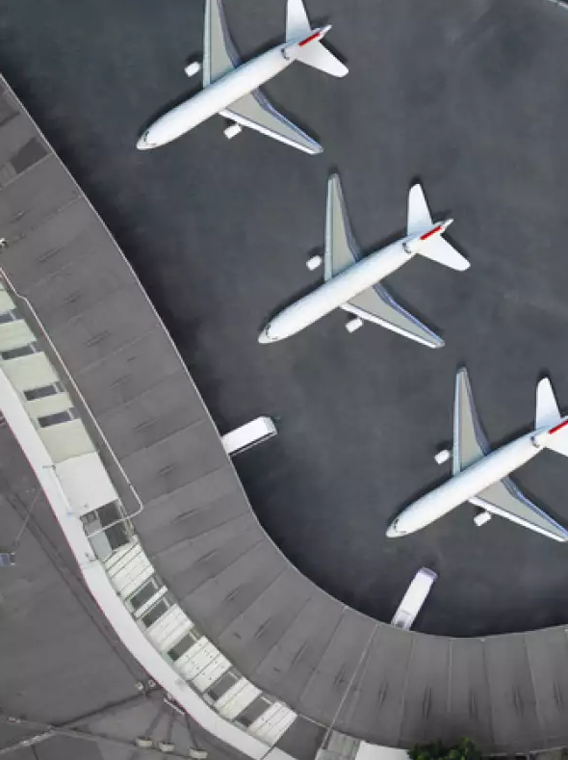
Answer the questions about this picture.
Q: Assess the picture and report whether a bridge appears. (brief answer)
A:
No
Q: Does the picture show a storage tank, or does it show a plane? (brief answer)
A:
plane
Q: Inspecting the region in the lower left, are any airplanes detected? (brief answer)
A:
No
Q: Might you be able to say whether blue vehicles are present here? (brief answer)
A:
No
